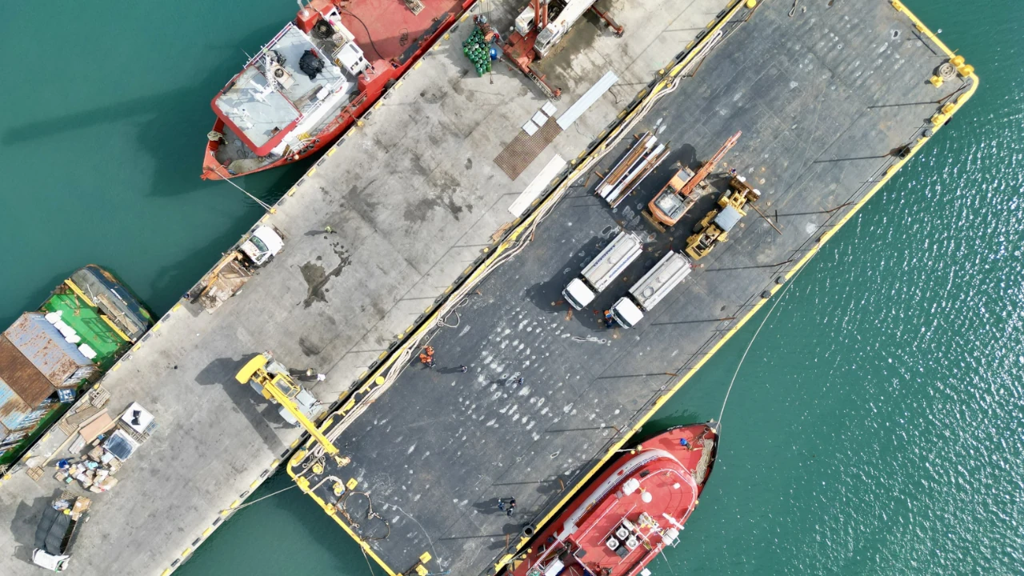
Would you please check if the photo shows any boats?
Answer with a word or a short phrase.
Yes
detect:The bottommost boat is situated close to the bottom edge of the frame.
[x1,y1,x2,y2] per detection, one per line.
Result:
[493,422,724,576]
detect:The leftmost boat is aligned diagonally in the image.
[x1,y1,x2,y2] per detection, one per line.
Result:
[0,266,155,477]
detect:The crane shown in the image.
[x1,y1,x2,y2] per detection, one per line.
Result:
[474,0,624,103]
